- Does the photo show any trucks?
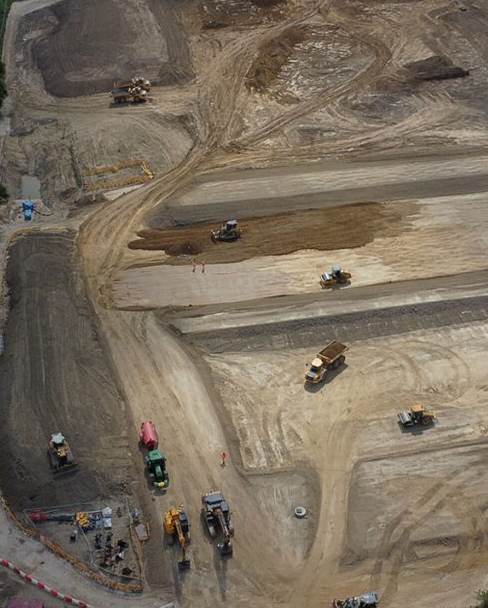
Yes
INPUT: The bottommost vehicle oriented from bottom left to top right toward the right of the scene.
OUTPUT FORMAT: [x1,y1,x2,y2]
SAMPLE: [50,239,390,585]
[303,340,350,385]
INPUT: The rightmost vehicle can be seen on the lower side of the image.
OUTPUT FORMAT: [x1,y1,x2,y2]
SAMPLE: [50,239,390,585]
[398,405,436,427]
